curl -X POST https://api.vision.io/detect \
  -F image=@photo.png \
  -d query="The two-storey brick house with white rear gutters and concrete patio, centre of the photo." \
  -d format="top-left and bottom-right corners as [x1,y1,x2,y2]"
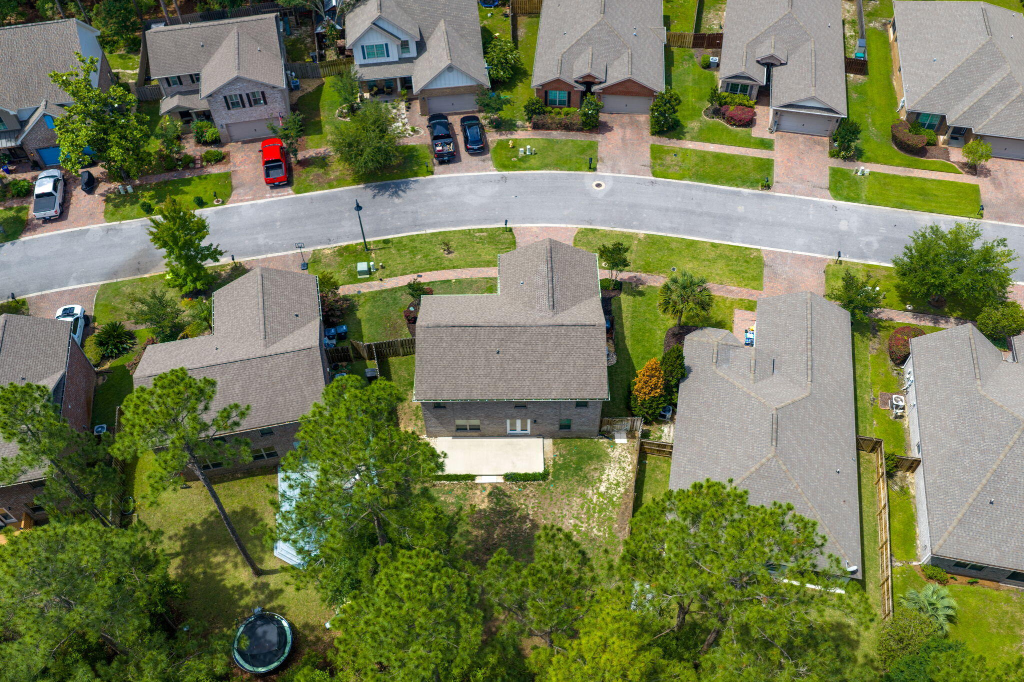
[413,238,610,444]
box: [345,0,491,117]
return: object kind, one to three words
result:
house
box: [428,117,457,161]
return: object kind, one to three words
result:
truck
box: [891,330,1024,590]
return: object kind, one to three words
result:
house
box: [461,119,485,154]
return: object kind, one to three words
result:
car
